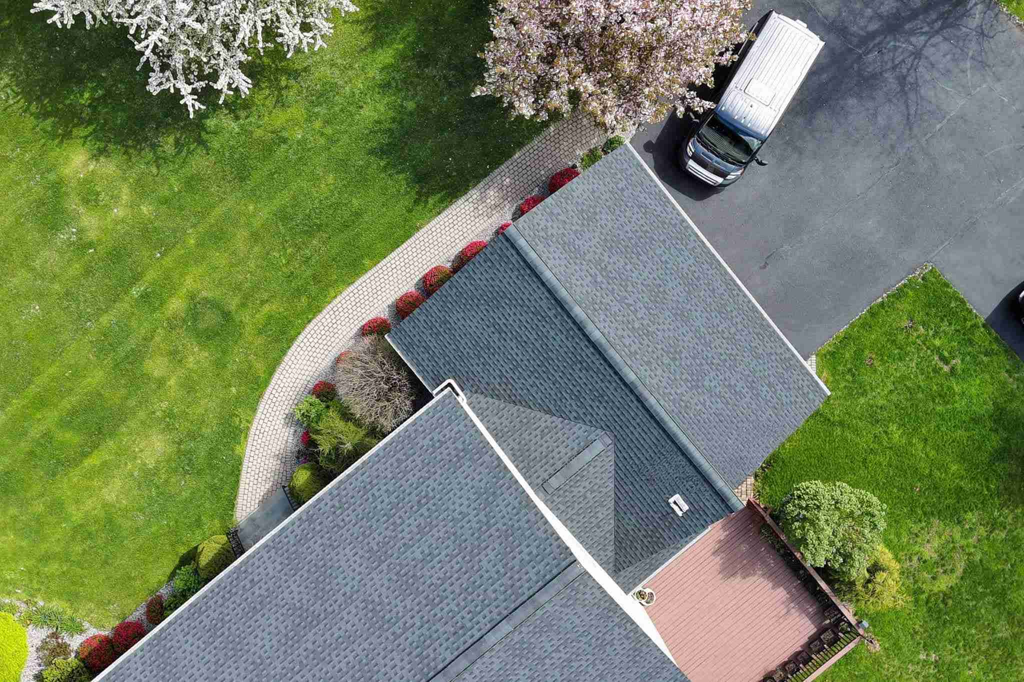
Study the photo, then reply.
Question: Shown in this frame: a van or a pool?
van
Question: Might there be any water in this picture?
No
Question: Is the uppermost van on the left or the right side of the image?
right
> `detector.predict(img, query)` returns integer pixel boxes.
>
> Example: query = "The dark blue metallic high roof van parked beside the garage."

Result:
[682,14,821,192]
